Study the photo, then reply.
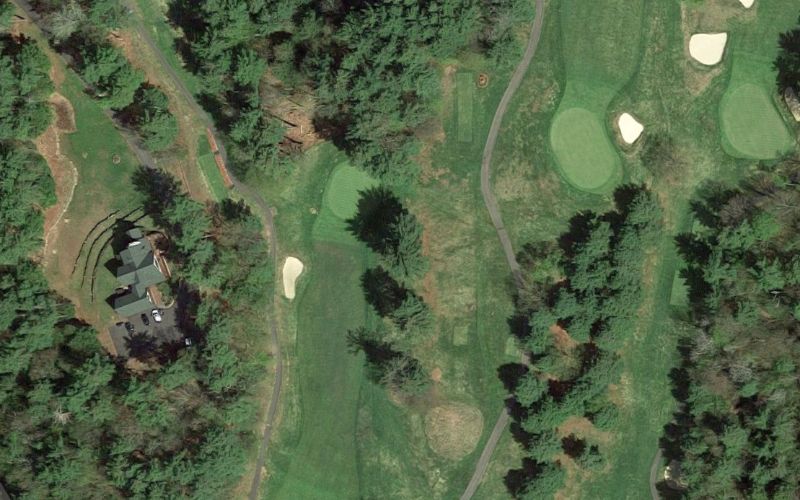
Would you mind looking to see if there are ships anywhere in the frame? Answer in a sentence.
No, I can see no ship in this picture.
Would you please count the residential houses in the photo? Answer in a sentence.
The picture shows 1 residential house.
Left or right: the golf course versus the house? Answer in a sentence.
In the image, the golf course sits on the right side of the house.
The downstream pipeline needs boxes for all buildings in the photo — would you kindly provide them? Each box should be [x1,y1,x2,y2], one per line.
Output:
[112,229,171,319]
